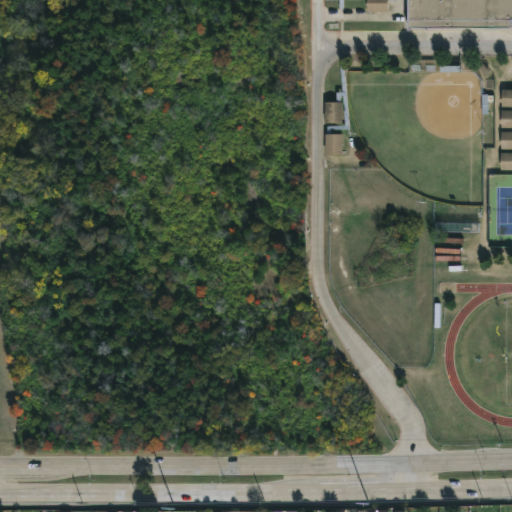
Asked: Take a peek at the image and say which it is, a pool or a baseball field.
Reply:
baseball field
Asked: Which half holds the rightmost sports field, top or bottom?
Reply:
bottom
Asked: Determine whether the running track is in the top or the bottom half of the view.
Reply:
bottom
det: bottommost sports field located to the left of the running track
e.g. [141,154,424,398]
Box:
[330,169,433,366]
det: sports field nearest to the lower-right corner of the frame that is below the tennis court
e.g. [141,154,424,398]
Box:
[456,294,512,416]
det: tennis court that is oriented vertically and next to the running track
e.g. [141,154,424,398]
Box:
[490,174,512,247]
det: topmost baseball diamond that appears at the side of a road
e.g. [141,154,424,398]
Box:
[348,72,482,205]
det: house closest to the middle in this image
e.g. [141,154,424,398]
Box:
[325,134,343,157]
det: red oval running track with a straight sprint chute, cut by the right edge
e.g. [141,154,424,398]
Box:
[444,282,512,427]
